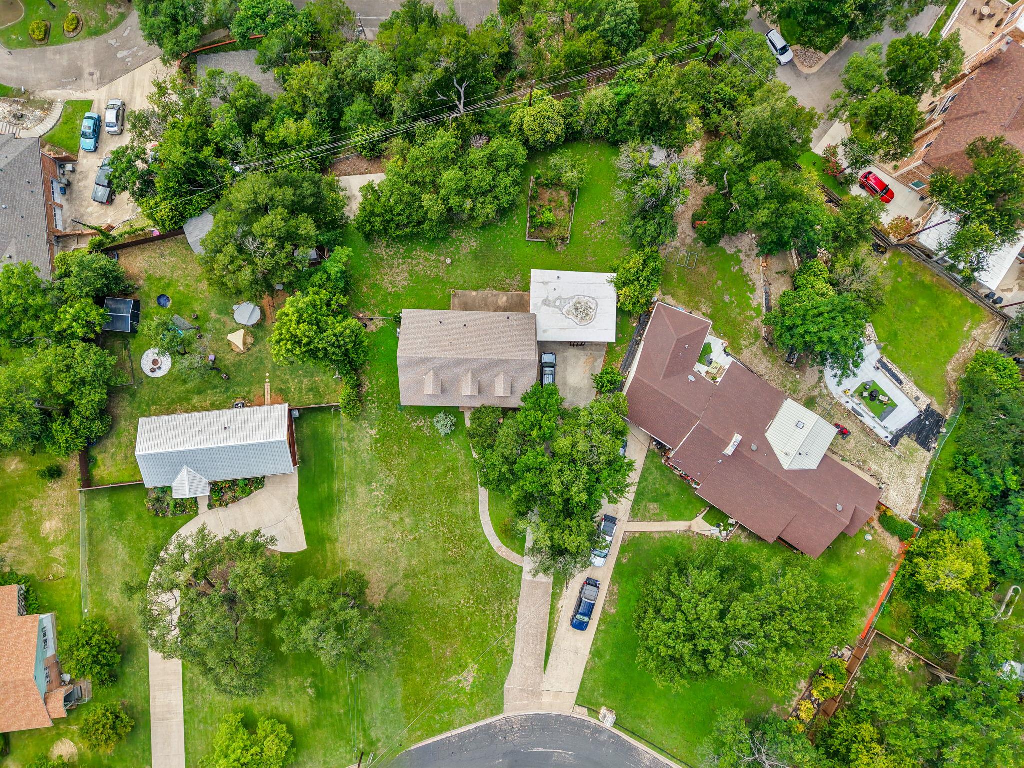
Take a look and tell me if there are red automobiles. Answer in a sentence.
Yes, the image includes a red automobile.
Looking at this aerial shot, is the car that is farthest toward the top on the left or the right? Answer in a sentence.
The car that is farthest toward the top sits on the right side.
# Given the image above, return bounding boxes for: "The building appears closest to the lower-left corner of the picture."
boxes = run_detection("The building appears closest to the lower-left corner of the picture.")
[0,582,69,733]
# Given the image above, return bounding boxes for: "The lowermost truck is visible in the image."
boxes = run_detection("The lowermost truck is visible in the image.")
[573,578,599,632]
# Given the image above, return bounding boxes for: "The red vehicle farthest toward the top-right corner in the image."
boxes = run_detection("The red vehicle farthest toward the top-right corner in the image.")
[857,169,897,205]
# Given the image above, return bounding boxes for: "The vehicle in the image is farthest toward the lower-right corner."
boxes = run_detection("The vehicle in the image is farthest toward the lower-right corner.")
[837,425,852,440]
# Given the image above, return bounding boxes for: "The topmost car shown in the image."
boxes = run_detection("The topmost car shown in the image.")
[764,30,794,69]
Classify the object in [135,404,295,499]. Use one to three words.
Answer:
house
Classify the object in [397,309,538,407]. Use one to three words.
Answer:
house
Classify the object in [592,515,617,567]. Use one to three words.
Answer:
truck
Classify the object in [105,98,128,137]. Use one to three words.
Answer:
car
